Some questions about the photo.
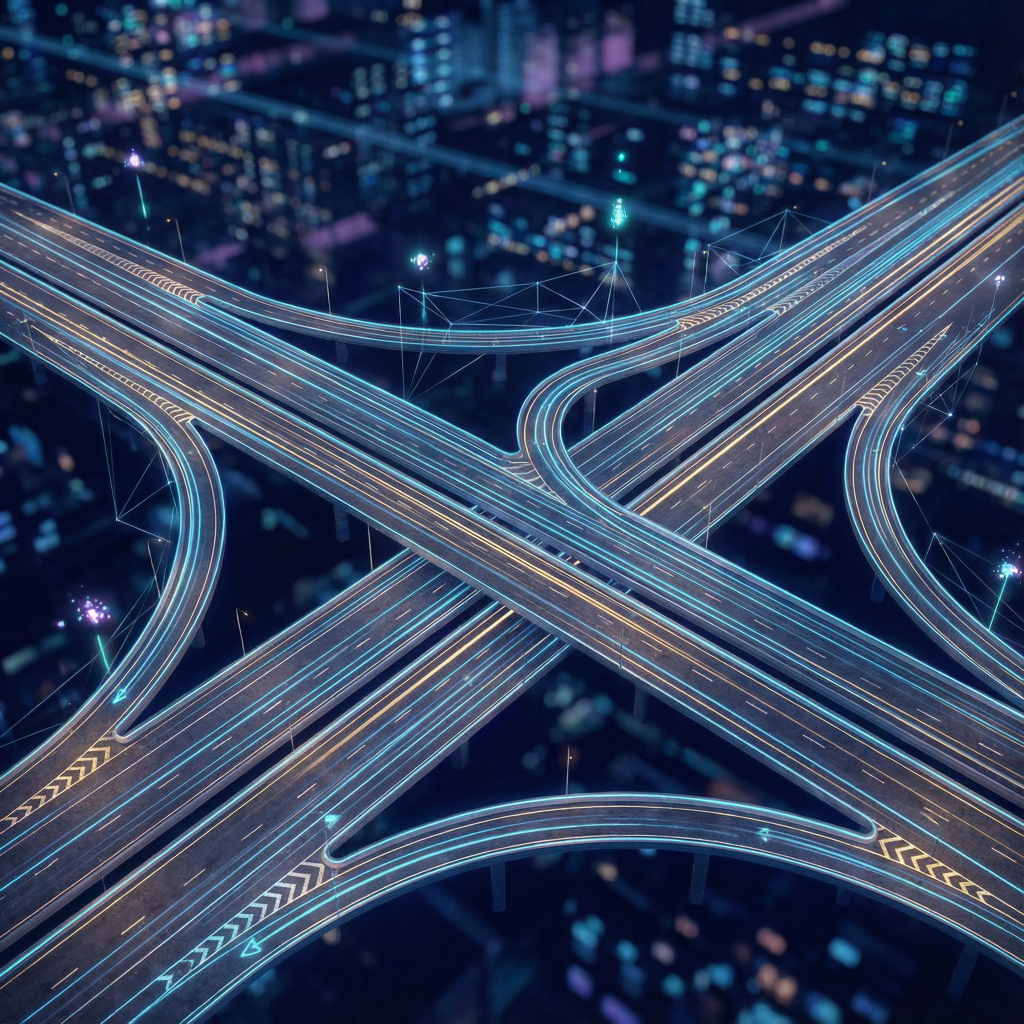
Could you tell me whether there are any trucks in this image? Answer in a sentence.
No, there isn't any truck down there.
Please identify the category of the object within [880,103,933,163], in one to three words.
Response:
building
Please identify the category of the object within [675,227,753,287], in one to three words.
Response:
building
